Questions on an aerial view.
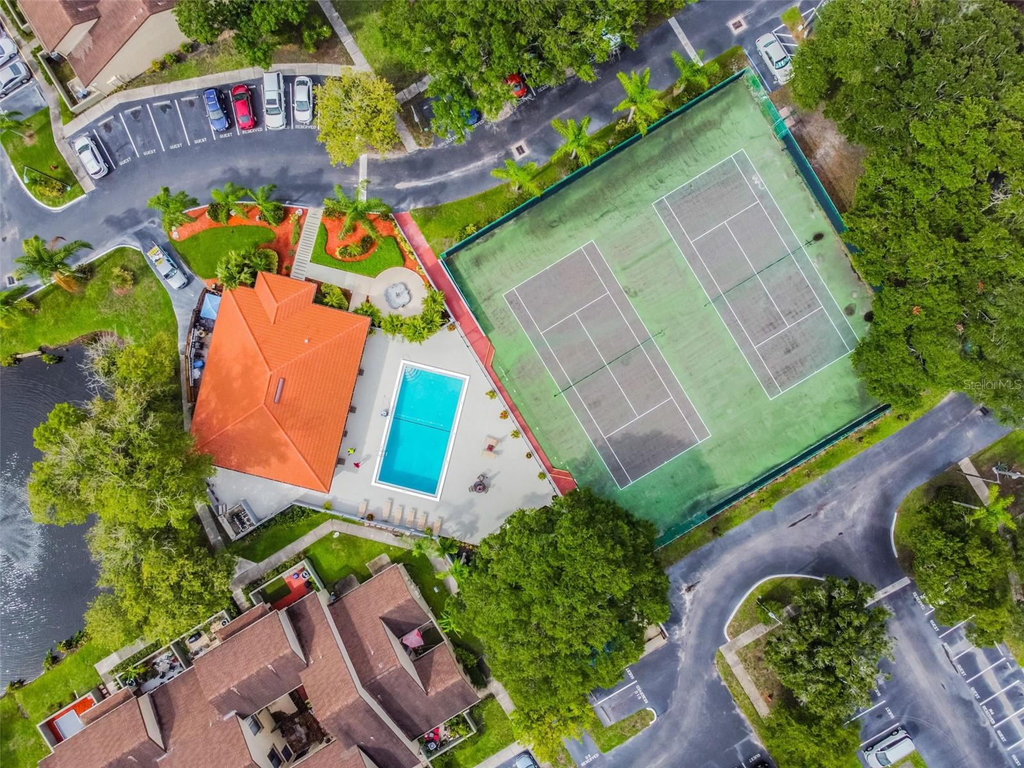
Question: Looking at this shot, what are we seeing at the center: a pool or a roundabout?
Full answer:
There is a pool at the center.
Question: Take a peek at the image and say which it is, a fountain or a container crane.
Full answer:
The one in the frame is a fountain.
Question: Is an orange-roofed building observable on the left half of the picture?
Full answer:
Yes, I can see an orange-roofed building on the left half of the picture.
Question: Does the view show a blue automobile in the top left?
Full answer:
Yes, a blue automobile is visible in the top left.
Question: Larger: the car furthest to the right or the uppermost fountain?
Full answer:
Of the two, the car is bigger, while the fountain is smaller.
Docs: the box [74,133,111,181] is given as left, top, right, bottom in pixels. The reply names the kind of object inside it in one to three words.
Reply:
car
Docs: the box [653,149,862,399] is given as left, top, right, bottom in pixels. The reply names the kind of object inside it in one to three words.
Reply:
tennis court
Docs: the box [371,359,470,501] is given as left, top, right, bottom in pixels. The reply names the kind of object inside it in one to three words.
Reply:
swimming pool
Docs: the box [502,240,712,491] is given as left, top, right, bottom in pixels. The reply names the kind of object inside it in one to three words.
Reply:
tennis court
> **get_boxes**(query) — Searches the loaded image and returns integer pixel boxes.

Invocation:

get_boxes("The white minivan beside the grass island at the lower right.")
[866,729,919,767]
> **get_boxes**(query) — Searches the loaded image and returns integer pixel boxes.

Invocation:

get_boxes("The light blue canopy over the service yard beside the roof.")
[201,294,223,320]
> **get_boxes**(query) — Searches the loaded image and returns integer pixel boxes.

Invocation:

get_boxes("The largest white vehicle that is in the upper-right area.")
[757,33,790,85]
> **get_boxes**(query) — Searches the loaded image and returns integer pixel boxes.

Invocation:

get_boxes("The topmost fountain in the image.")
[382,281,412,310]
